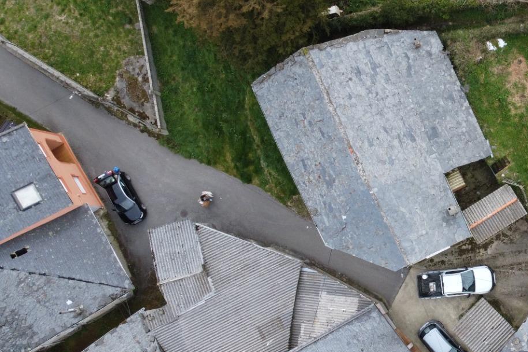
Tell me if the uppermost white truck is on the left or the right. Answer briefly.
right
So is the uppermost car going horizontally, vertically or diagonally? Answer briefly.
diagonally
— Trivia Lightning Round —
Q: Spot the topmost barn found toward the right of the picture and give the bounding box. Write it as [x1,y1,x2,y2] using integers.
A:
[249,25,493,271]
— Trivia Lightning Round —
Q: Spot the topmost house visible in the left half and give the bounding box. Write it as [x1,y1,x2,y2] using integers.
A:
[0,120,107,258]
